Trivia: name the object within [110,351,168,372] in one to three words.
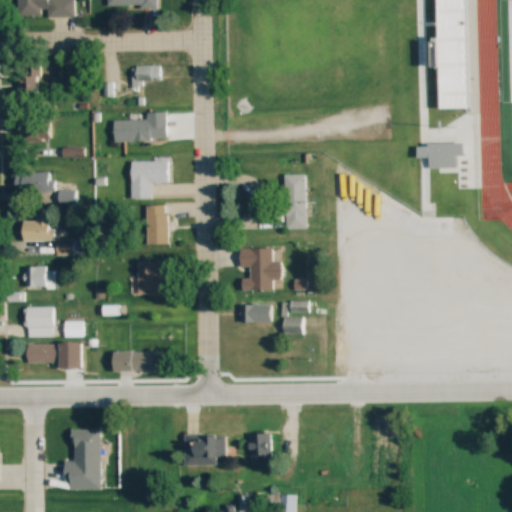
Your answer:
house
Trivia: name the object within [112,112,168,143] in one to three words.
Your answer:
house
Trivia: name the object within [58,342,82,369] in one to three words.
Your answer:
building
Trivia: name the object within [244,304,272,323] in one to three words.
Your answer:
building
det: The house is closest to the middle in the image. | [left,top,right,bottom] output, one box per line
[240,248,284,292]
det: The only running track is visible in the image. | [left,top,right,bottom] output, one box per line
[478,0,512,231]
